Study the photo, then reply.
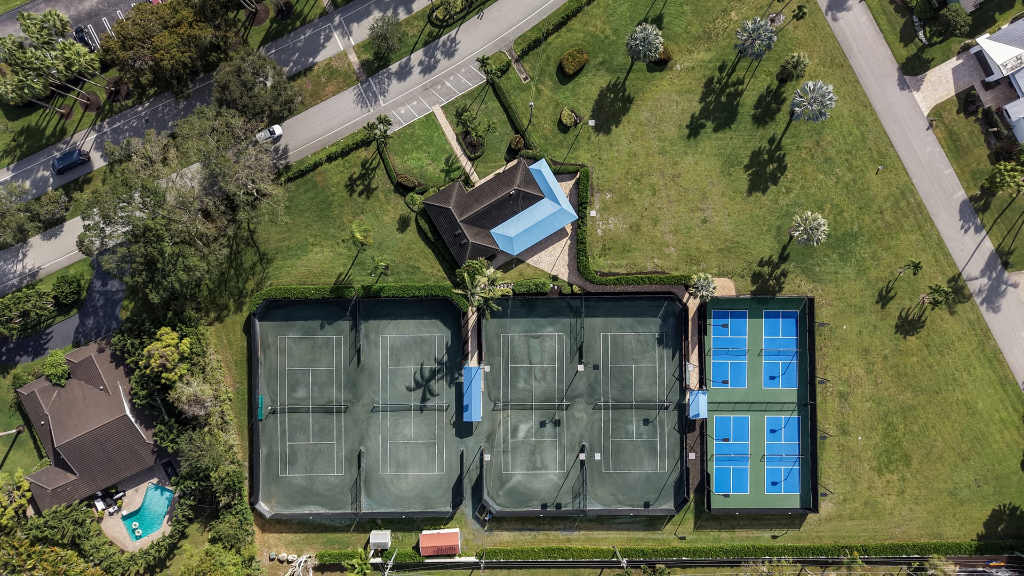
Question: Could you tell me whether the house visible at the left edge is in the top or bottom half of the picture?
bottom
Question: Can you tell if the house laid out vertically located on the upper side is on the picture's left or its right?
right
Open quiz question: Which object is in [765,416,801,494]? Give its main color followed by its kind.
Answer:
blue sports court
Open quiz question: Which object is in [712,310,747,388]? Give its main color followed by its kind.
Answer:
blue sports court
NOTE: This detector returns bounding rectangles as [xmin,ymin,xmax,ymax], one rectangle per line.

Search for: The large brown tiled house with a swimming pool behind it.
[15,332,159,514]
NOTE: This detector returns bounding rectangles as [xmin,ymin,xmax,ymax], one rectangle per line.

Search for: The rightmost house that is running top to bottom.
[968,16,1024,144]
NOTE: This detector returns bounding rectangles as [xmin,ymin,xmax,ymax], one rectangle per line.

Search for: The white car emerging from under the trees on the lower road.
[254,125,284,145]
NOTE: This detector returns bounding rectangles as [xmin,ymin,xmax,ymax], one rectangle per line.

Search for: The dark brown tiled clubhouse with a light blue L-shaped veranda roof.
[422,157,579,265]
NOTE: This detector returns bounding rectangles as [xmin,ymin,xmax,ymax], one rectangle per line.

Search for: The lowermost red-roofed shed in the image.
[420,528,461,556]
